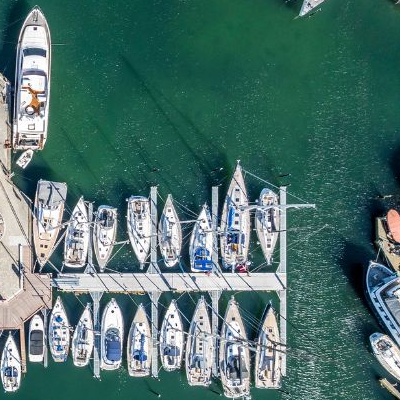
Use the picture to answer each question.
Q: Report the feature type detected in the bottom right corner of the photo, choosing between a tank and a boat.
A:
boat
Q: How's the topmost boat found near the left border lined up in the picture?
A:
vertically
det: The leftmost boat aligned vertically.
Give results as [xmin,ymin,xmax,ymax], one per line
[0,333,23,392]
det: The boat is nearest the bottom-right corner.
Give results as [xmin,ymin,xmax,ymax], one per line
[367,333,400,380]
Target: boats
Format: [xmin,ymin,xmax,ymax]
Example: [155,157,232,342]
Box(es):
[14,4,53,154]
[158,291,211,370]
[298,0,321,15]
[126,293,173,383]
[125,196,169,274]
[92,202,124,274]
[367,333,400,380]
[218,291,295,398]
[255,189,291,274]
[219,159,310,280]
[64,195,105,273]
[26,318,45,362]
[32,179,68,272]
[0,333,23,392]
[185,291,250,387]
[47,291,79,363]
[15,149,35,167]
[188,203,241,276]
[157,192,206,270]
[72,293,109,368]
[97,292,124,372]
[255,293,320,389]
